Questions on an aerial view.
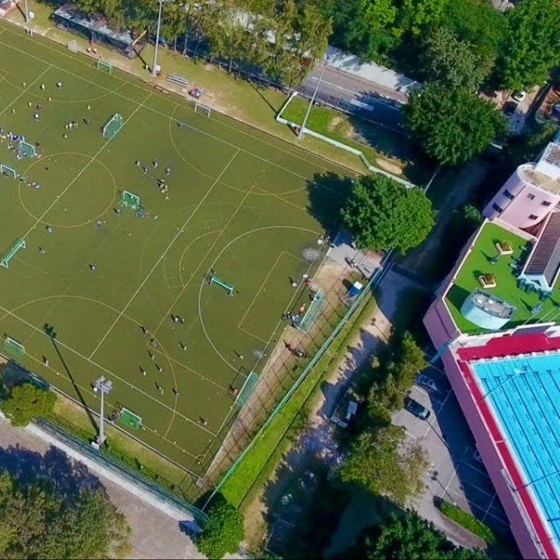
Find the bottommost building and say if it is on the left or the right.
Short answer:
right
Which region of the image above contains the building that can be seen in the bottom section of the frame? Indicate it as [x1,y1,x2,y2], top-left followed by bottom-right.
[414,208,560,560]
